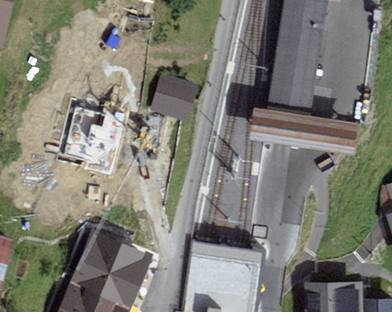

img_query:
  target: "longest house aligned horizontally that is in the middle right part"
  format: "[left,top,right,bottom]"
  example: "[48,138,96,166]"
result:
[250,108,359,155]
